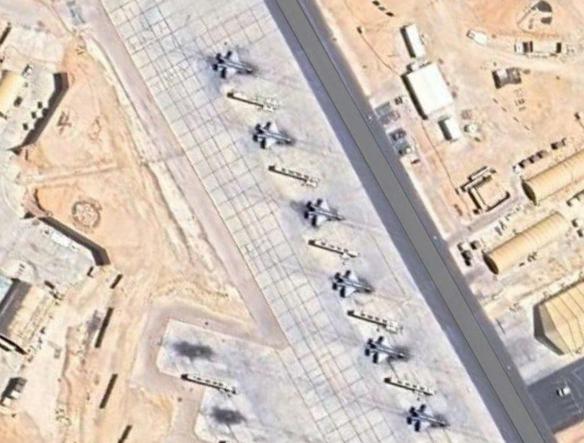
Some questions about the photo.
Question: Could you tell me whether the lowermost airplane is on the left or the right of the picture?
right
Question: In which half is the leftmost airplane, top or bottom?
top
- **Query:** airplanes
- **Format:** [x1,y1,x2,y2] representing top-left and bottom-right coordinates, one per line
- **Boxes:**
[366,335,406,362]
[214,50,254,76]
[334,270,375,296]
[253,120,293,145]
[306,198,346,225]
[409,405,449,431]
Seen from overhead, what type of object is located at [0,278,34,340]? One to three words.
building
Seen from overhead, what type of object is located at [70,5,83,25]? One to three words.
vehicle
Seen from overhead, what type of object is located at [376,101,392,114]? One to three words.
vehicle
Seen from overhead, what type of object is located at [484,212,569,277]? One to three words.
hangar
